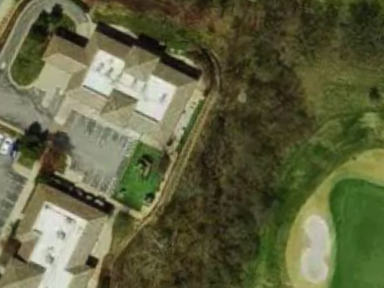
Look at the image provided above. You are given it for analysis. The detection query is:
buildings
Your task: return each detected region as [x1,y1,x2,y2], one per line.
[44,28,199,152]
[0,183,110,288]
